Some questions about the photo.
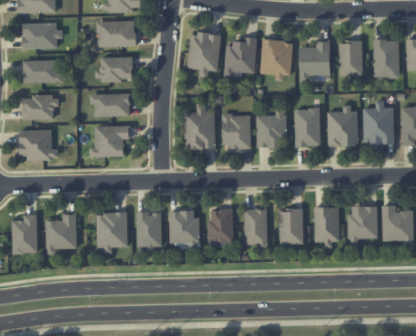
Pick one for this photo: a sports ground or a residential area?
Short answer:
residential area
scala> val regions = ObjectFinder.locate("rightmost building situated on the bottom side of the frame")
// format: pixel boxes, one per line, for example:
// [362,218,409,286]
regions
[382,207,414,242]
